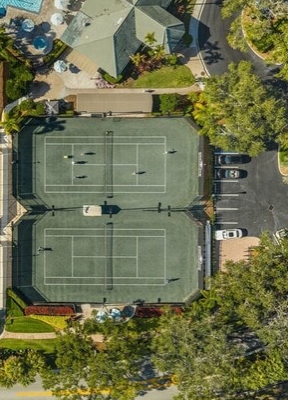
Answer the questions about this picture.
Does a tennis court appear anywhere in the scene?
Yes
